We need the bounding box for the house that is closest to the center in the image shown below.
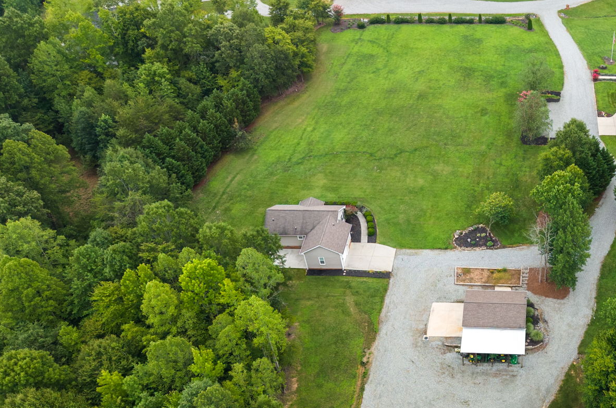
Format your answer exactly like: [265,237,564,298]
[266,195,351,269]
